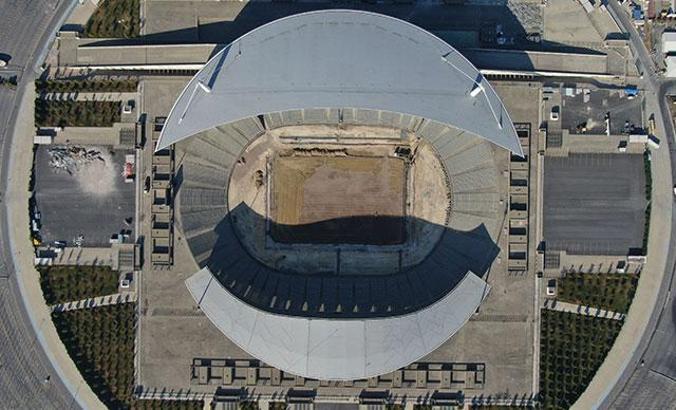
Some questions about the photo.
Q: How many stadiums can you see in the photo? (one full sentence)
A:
The photo contains exactly 1 stadium.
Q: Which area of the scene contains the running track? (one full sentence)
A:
The running track appears toward the center of the photo.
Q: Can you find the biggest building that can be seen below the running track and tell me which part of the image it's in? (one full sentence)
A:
Look in the bottom portion of the view to spot the biggest building that can be seen below the running track.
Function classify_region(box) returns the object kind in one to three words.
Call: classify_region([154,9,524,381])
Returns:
stadium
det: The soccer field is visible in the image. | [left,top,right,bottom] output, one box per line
[267,152,411,252]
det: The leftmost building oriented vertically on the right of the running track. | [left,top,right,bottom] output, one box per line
[508,121,530,272]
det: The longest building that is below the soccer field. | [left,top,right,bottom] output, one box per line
[191,359,489,387]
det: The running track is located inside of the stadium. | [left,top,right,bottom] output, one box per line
[229,127,450,276]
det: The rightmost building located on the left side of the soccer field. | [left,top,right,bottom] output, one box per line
[151,116,170,266]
